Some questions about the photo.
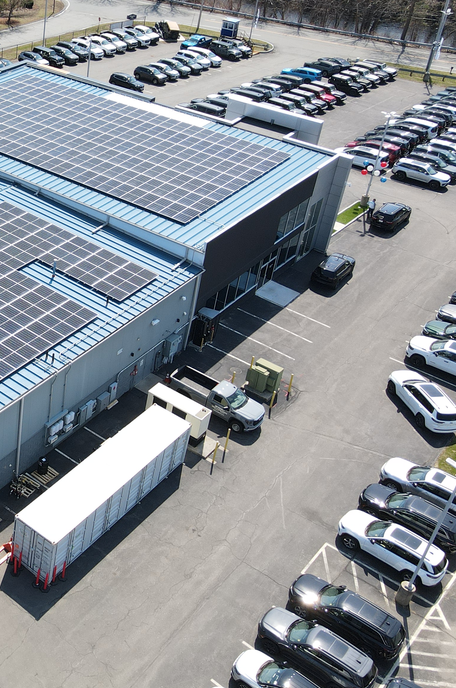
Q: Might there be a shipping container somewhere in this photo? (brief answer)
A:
Yes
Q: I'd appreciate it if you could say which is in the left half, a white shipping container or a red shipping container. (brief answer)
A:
white shipping container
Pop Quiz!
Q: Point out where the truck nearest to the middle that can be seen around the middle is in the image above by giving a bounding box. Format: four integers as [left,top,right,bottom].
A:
[167,367,268,435]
